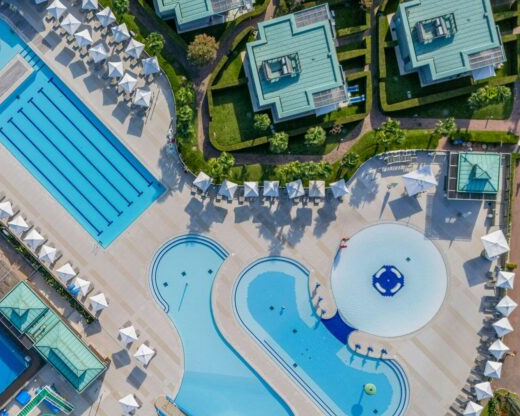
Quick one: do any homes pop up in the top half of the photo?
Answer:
Yes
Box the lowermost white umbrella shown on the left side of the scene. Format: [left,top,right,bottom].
[119,394,140,413]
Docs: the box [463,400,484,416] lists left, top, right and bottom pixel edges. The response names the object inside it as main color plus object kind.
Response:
white umbrella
